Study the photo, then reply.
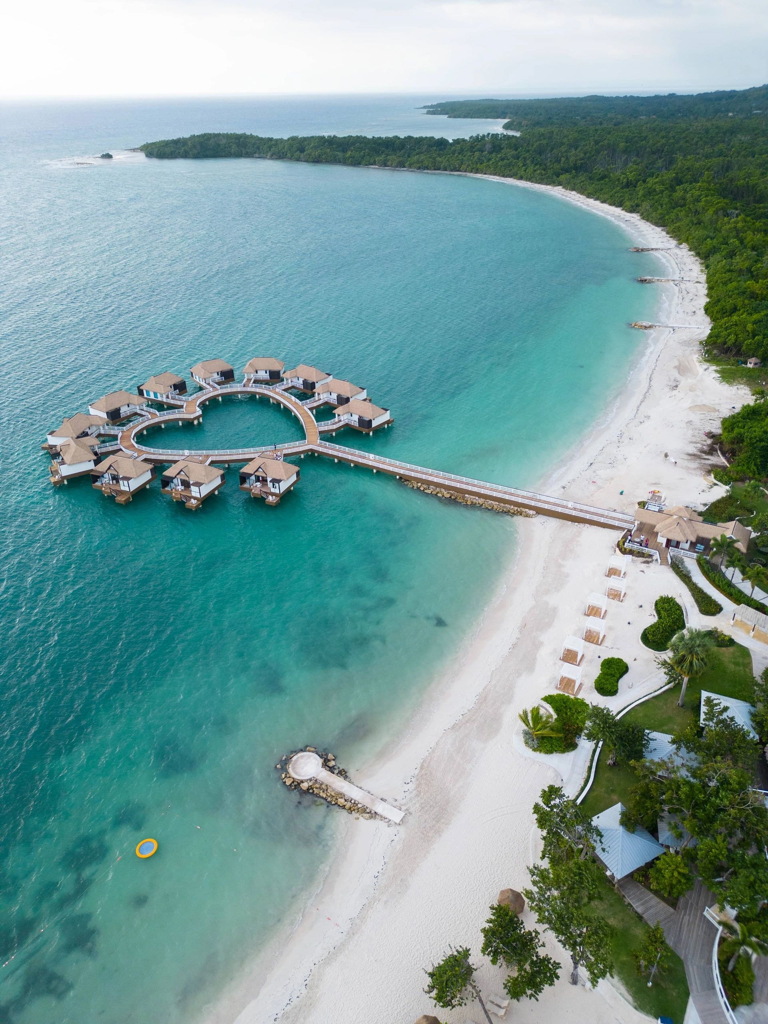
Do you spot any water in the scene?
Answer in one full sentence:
Yes, there is water in the image.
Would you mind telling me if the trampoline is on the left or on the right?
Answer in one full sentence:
The trampoline appears in the left half of the scene.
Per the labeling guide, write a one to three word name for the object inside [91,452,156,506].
house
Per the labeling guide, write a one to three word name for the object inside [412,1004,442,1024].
umbrella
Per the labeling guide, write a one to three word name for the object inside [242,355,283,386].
house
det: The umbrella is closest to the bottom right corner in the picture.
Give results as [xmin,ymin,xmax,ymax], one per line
[499,883,525,909]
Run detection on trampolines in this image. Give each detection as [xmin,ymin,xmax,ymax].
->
[135,838,158,859]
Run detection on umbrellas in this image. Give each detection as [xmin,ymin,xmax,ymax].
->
[412,1004,442,1024]
[499,883,525,909]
